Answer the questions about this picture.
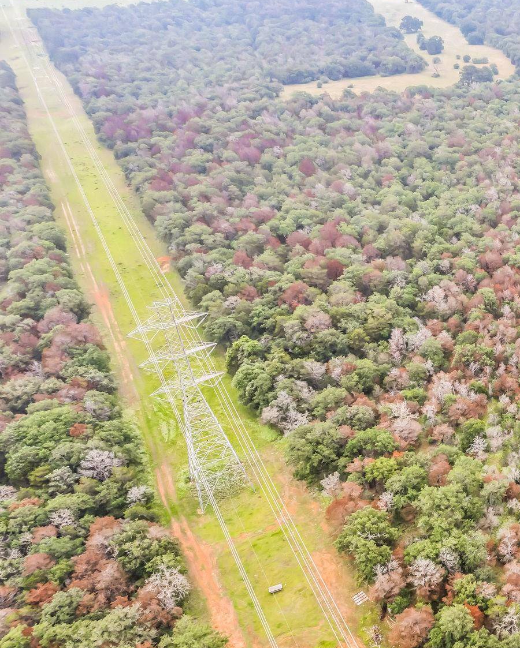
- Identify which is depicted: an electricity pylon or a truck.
electricity pylon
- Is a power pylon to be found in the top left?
Yes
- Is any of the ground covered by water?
No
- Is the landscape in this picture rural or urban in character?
rural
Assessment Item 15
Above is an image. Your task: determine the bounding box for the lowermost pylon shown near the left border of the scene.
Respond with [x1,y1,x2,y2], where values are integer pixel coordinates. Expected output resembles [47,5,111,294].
[0,28,65,129]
